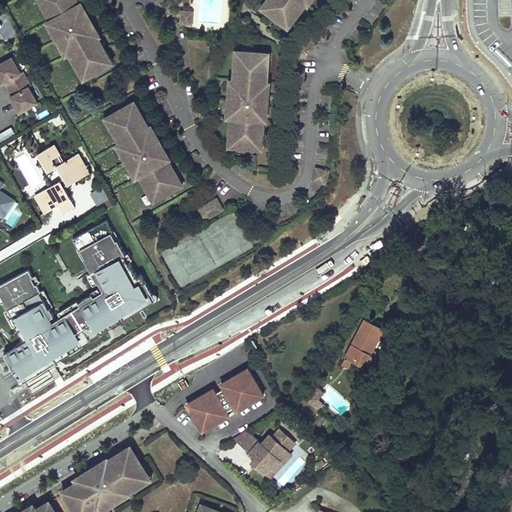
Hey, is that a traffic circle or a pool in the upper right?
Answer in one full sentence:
You can see a traffic circle in the upper right.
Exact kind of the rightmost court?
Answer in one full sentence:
What you see as the rightmost court is a tennis court.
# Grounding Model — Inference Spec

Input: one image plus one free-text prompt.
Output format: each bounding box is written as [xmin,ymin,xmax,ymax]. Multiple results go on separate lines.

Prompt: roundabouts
[364,48,508,192]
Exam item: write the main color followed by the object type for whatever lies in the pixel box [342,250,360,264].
white vehicle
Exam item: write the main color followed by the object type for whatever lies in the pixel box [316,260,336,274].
white vehicle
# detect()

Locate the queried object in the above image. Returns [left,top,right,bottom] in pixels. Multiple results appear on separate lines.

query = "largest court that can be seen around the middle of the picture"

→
[162,214,253,287]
